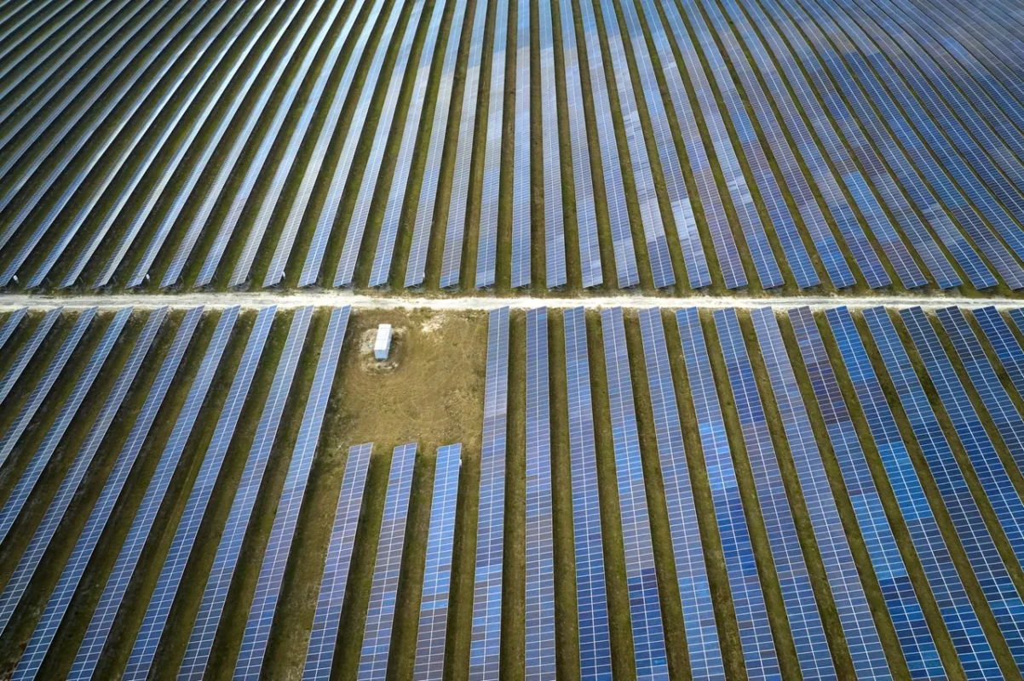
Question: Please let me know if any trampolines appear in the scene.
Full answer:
No, I find no trampoline anywhere in the image.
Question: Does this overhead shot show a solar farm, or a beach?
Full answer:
What you see here is a solar farm.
